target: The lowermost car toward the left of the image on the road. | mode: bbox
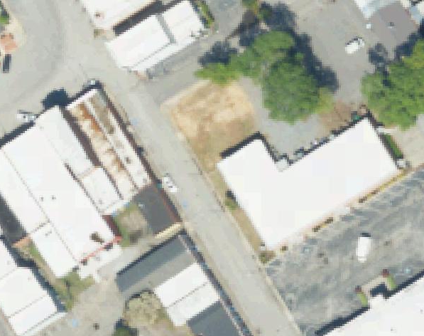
[162,175,175,192]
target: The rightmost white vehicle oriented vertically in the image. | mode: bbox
[357,235,370,261]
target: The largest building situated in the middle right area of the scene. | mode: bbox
[216,118,402,249]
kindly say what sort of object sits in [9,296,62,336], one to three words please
building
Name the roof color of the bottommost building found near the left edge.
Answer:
white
